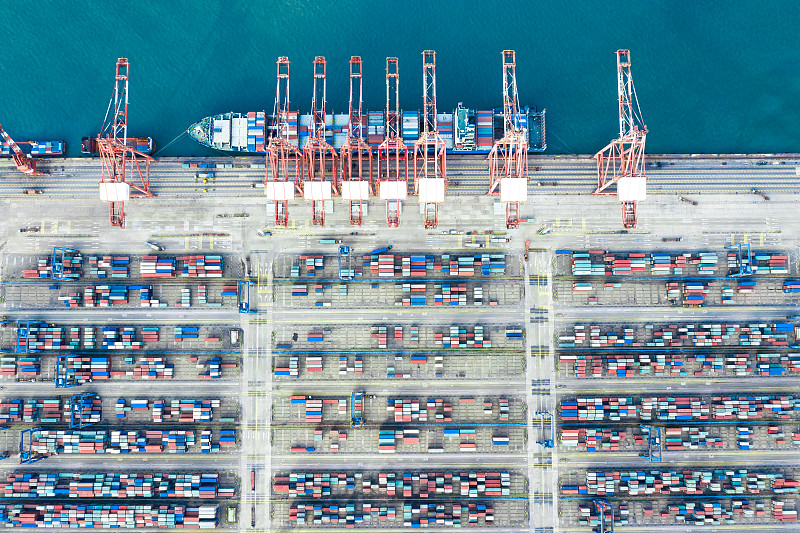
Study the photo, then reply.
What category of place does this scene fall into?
port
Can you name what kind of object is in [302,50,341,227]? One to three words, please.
container crane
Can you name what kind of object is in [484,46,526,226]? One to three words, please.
container crane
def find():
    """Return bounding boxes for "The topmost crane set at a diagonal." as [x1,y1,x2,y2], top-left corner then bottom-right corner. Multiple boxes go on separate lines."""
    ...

[0,127,52,178]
